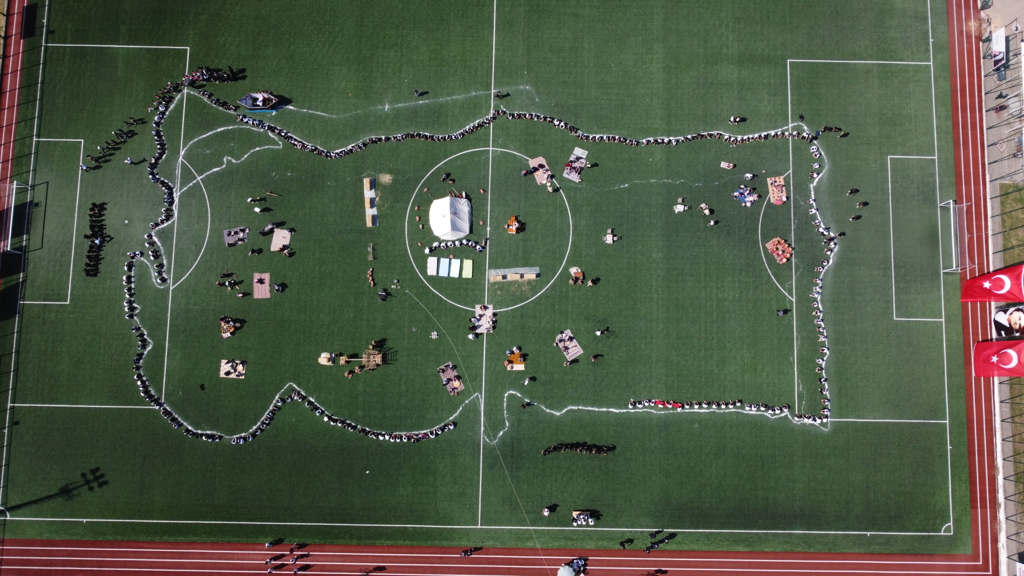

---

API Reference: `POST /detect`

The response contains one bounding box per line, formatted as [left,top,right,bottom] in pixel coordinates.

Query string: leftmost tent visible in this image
[422,192,481,243]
